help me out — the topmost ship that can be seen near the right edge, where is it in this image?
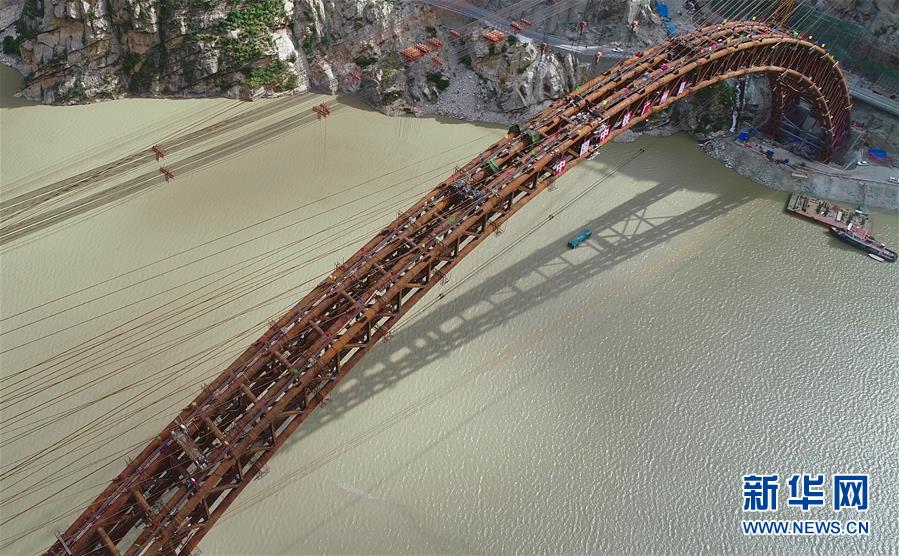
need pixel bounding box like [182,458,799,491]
[788,191,872,235]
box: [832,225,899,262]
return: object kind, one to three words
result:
boat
